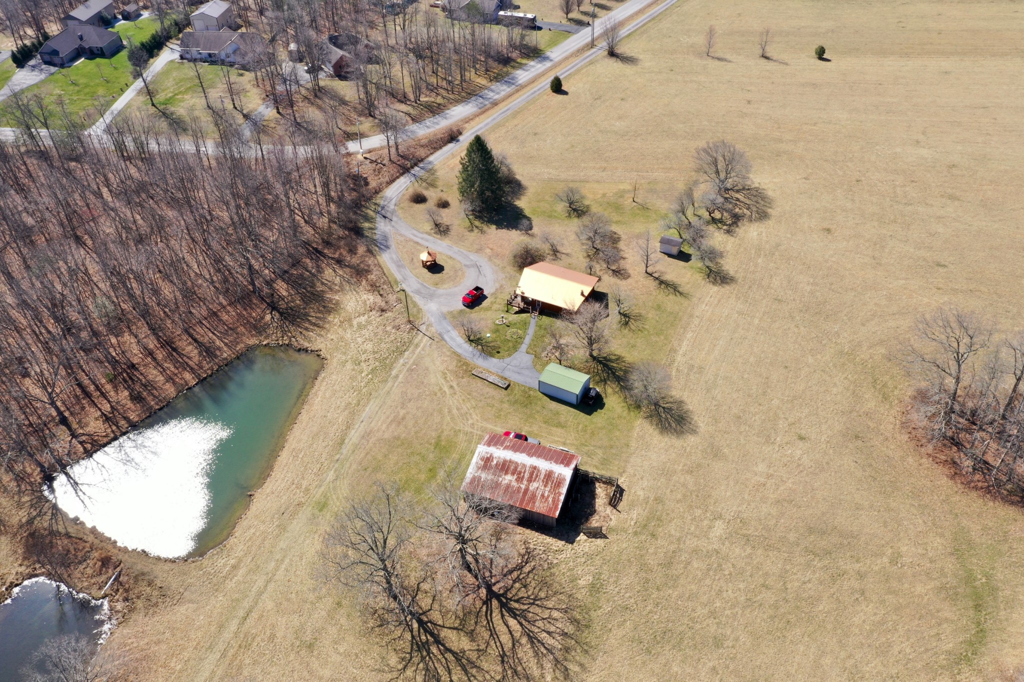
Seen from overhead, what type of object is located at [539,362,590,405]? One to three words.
building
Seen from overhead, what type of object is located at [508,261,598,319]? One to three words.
building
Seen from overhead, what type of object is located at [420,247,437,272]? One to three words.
gazebo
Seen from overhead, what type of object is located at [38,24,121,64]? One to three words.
house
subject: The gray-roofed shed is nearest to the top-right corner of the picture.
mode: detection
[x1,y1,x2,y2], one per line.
[660,235,683,256]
